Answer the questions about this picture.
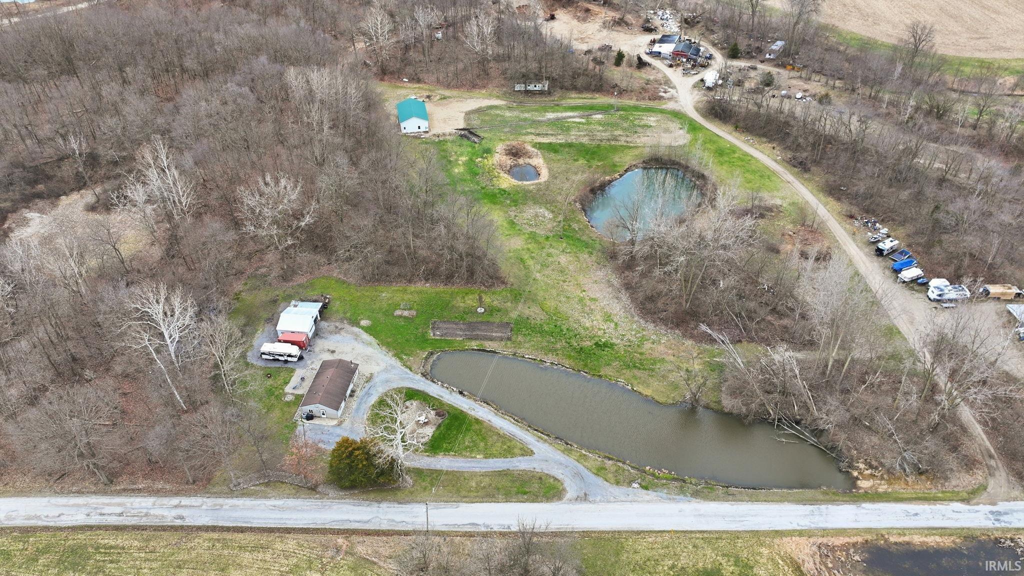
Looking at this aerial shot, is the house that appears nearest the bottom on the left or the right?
left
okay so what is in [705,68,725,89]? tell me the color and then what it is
white vehicle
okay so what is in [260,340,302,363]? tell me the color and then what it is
white vehicle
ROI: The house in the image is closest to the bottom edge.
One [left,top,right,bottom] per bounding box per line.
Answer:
[298,358,354,418]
